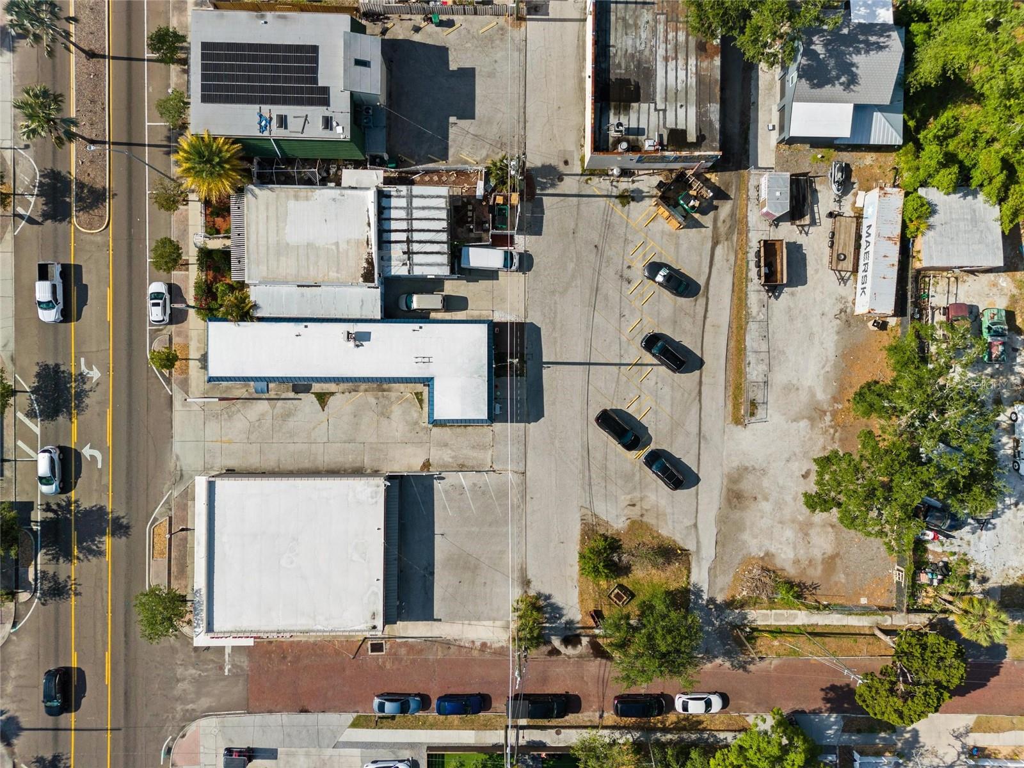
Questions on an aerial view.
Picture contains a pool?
No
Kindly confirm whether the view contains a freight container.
Yes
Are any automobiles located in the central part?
Yes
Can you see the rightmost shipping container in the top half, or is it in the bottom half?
top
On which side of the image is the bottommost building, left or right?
left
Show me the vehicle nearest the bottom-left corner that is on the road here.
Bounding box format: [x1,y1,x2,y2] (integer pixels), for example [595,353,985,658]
[41,667,69,719]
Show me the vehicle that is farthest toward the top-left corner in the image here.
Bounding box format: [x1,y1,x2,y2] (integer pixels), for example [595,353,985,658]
[34,260,64,321]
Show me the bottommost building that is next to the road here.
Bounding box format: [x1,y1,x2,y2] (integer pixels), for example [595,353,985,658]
[194,473,402,645]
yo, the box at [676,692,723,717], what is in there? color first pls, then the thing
white car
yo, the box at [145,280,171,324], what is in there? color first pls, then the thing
white car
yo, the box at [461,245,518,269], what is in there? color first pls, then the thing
white vehicle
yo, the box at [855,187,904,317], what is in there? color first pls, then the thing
white shipping container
